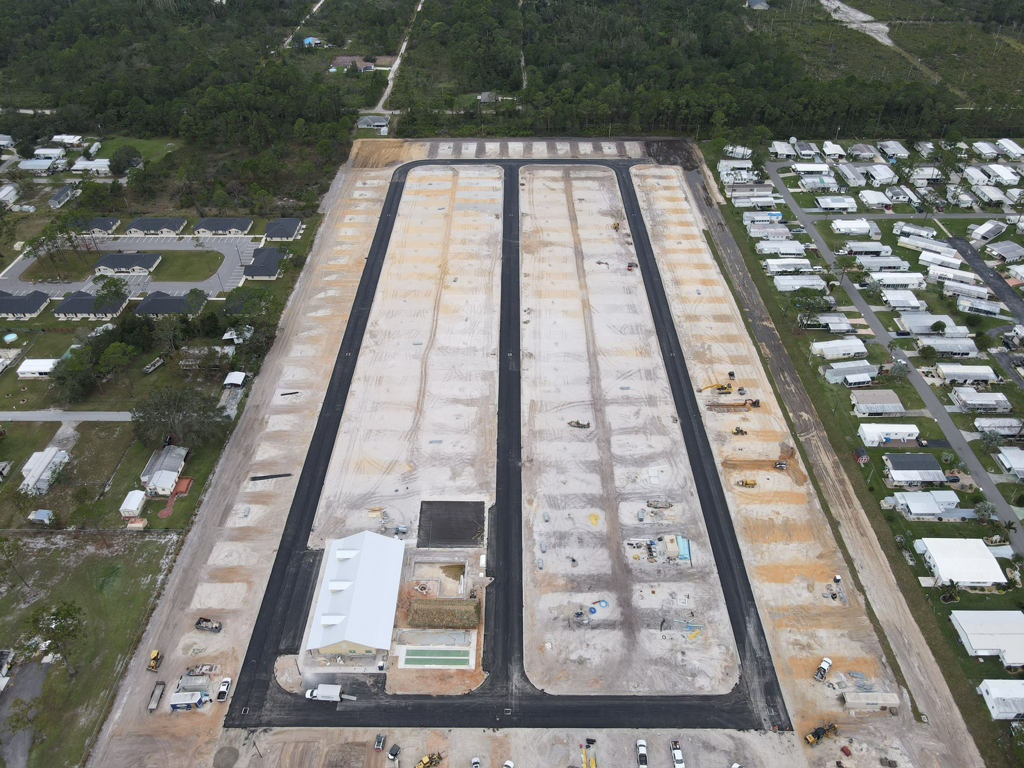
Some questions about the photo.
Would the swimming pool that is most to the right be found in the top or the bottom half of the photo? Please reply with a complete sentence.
The swimming pool that is most to the right sits in the bottom half of the picture.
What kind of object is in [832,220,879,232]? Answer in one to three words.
house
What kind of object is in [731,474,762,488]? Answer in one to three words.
vehicle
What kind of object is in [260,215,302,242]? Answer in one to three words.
building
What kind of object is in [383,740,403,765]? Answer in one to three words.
car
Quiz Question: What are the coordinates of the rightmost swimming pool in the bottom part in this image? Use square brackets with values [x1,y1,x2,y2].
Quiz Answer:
[410,560,466,597]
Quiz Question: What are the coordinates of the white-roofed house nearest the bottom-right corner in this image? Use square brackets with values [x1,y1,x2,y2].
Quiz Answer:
[979,679,1024,719]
